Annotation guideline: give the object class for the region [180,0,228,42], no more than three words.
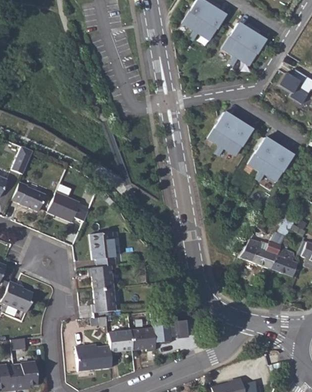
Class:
house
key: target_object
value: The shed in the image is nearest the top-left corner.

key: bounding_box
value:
[11,146,34,174]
